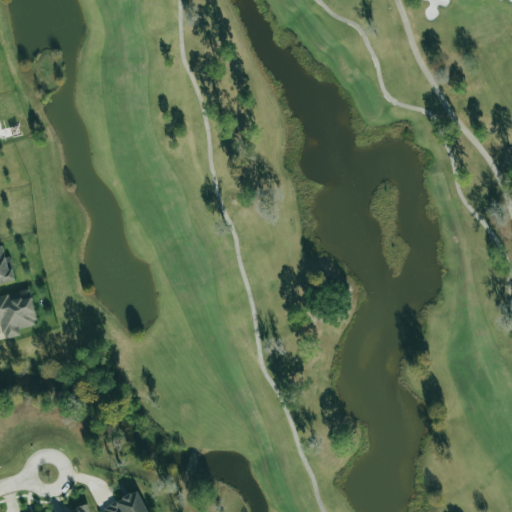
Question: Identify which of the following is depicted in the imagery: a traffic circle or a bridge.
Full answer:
Of the two, only a traffic circle appears.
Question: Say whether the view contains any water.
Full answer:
Yes, the picture does contain water.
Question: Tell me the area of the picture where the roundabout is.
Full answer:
You can find the roundabout in the bottom left area of the picture.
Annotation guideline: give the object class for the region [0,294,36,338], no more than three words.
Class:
house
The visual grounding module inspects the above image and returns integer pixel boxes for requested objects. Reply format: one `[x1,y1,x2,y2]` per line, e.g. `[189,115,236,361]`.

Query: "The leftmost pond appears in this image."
[10,0,158,334]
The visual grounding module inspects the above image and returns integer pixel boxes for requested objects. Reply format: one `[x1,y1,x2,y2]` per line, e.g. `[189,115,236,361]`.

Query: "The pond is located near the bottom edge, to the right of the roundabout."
[178,448,268,512]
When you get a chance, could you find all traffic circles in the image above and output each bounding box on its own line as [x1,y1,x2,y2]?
[12,448,74,498]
